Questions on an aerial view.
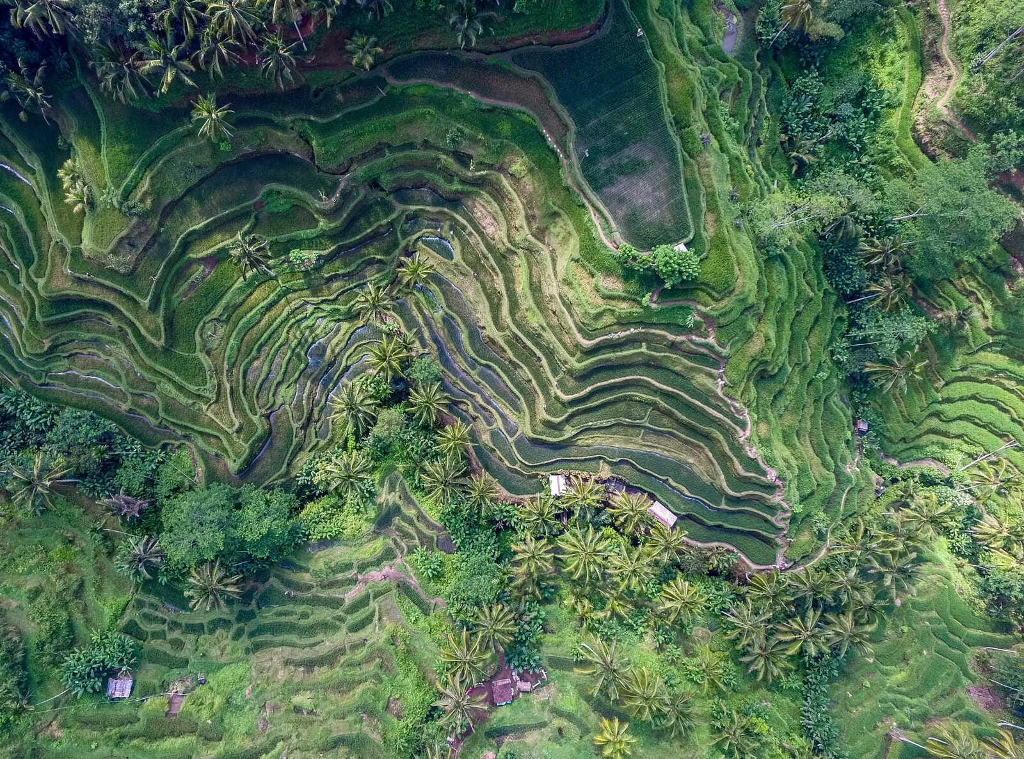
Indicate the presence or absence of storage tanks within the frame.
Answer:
No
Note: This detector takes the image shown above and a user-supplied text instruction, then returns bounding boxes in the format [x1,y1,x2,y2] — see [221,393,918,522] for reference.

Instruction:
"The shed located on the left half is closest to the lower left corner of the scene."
[107,675,136,697]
